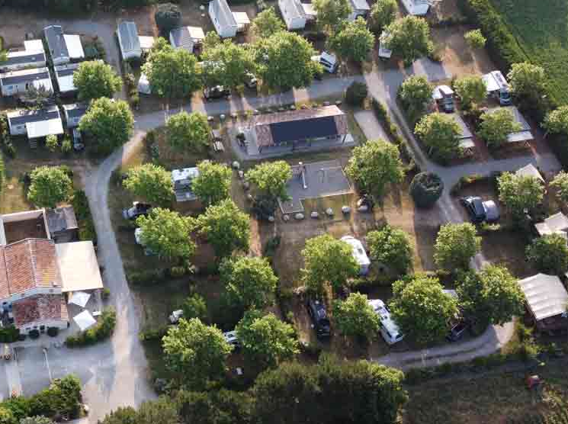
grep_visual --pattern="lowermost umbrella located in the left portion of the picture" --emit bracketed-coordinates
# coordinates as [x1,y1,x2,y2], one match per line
[69,308,100,335]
